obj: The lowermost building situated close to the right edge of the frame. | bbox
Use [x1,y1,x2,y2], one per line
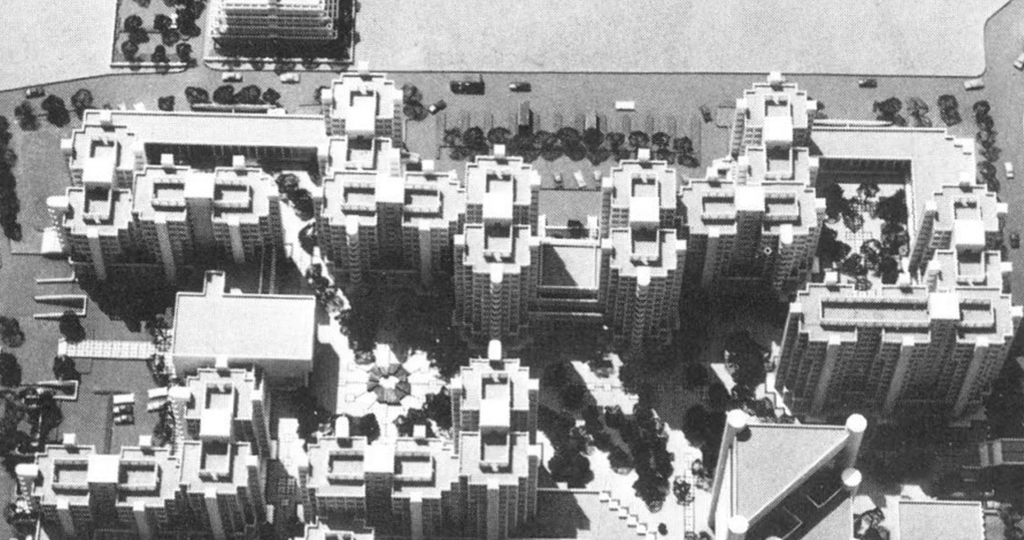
[896,502,987,540]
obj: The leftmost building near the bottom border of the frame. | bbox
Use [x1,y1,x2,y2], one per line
[16,434,186,540]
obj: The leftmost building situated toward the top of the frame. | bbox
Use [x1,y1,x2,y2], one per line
[49,115,148,282]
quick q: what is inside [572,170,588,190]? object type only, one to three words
vehicle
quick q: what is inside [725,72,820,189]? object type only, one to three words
building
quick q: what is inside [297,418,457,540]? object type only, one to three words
building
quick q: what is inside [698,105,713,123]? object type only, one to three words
car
